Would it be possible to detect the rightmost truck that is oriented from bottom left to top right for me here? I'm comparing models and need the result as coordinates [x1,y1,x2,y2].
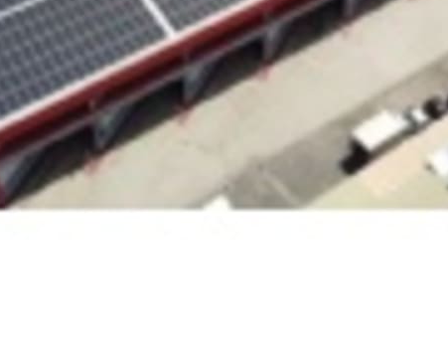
[354,104,418,155]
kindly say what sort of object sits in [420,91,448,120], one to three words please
car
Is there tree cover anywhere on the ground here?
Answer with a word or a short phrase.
No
